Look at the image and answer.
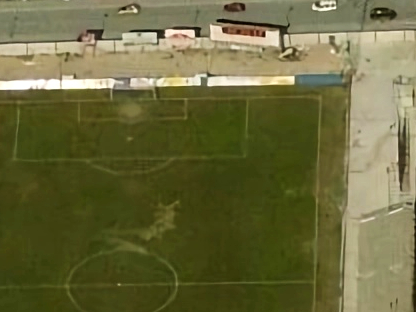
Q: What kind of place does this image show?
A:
sports ground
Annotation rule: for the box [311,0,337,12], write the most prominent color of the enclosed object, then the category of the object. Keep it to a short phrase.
white vehicle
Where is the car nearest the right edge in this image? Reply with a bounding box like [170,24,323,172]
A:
[370,7,396,19]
